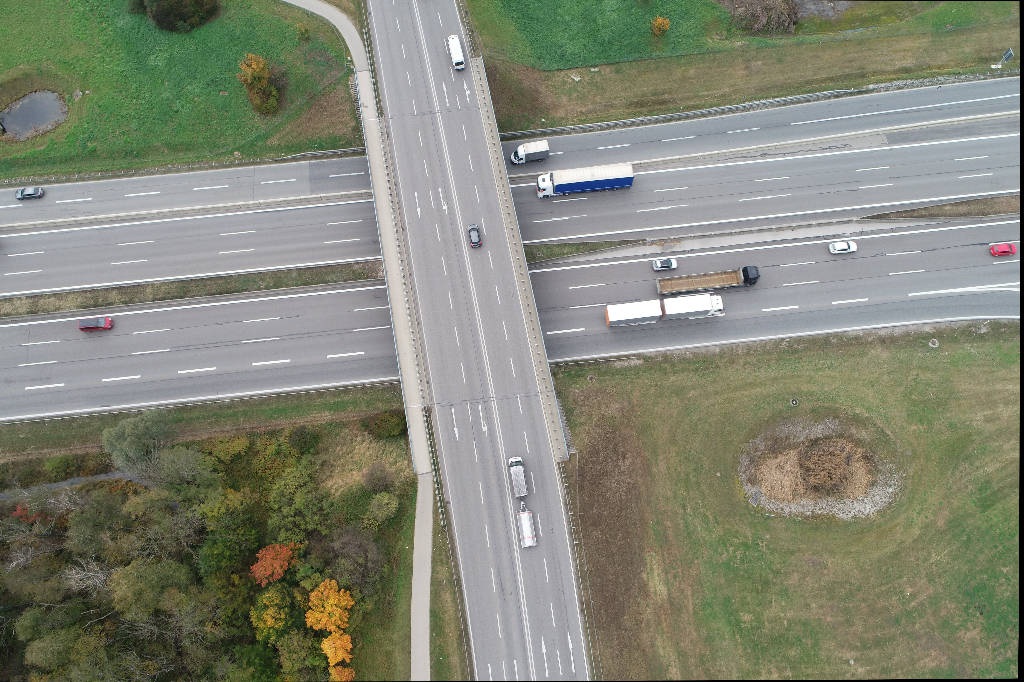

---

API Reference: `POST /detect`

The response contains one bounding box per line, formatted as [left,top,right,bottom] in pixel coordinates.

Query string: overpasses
[354,52,568,474]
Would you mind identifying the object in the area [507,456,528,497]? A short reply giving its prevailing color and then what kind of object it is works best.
white truck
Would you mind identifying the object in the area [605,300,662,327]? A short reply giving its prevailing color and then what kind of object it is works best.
white trailer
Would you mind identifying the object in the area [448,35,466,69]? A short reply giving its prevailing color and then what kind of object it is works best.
white vehicle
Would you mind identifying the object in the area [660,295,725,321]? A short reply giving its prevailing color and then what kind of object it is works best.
white truck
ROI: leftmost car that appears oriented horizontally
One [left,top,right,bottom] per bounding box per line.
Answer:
[15,186,43,199]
